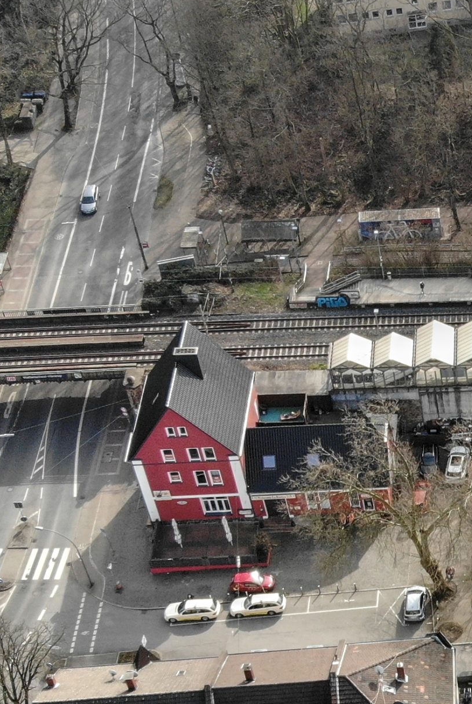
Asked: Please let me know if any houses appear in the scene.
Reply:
Yes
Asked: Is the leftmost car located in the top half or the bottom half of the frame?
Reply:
top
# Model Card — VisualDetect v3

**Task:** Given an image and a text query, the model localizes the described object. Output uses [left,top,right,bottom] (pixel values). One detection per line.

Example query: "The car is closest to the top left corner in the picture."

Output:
[78,187,101,215]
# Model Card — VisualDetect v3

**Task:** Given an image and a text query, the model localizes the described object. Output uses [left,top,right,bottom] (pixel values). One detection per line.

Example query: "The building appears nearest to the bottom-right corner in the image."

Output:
[333,627,464,704]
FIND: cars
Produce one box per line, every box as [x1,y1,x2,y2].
[78,187,101,215]
[419,444,441,478]
[229,570,274,593]
[404,580,429,622]
[167,598,224,625]
[230,590,287,617]
[447,445,471,478]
